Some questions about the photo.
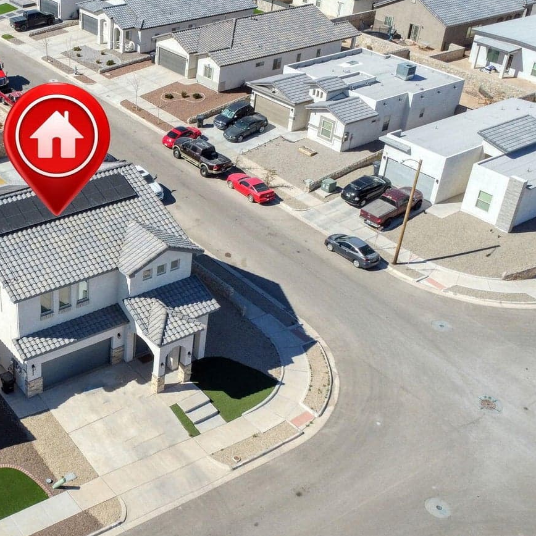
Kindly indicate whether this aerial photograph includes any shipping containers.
No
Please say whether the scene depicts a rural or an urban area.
urban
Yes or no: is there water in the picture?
No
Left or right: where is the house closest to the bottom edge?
left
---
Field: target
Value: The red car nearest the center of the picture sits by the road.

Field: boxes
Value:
[226,174,281,205]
